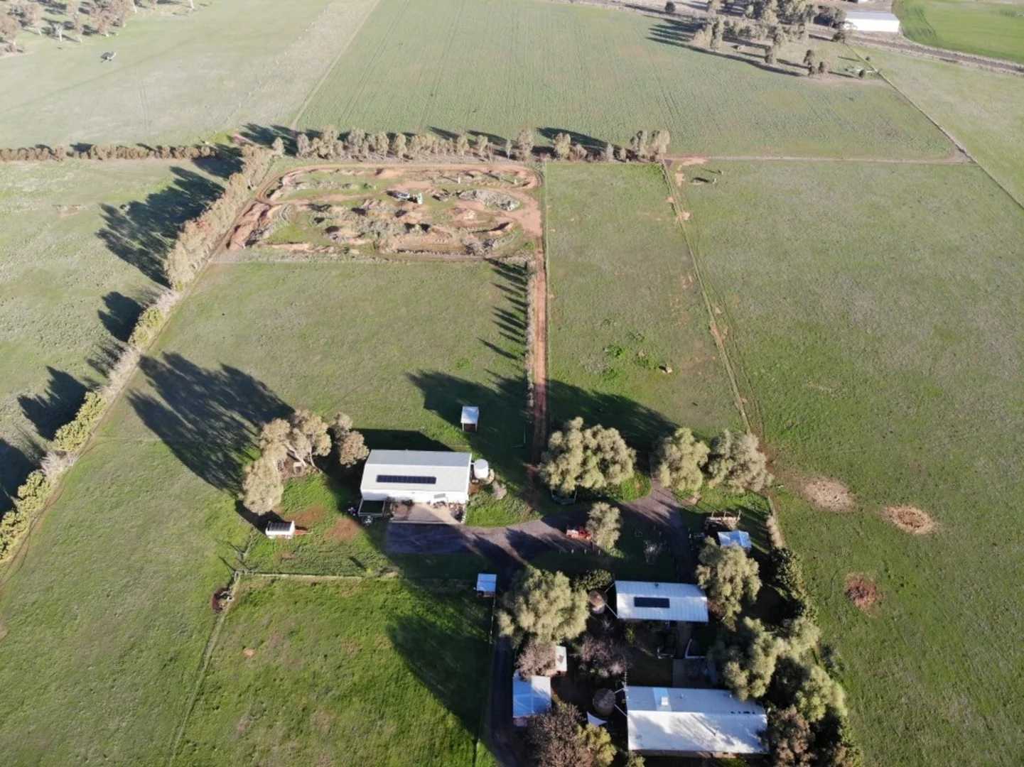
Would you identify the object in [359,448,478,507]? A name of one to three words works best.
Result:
barn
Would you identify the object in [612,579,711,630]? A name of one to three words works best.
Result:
house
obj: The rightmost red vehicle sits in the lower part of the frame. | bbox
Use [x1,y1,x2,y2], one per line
[562,524,589,541]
